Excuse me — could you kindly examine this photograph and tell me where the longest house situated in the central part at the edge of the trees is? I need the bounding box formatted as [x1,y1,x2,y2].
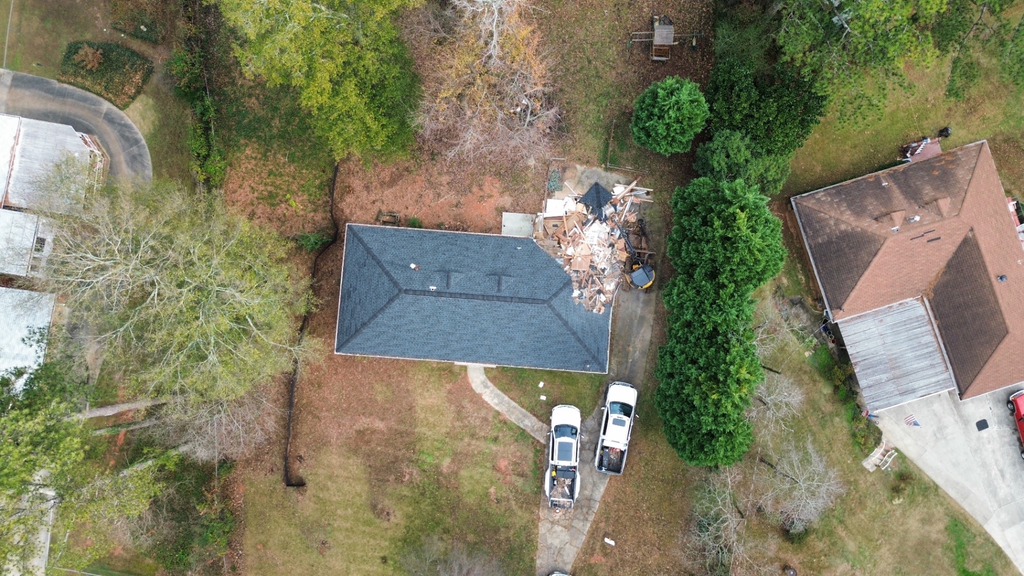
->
[333,223,622,375]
